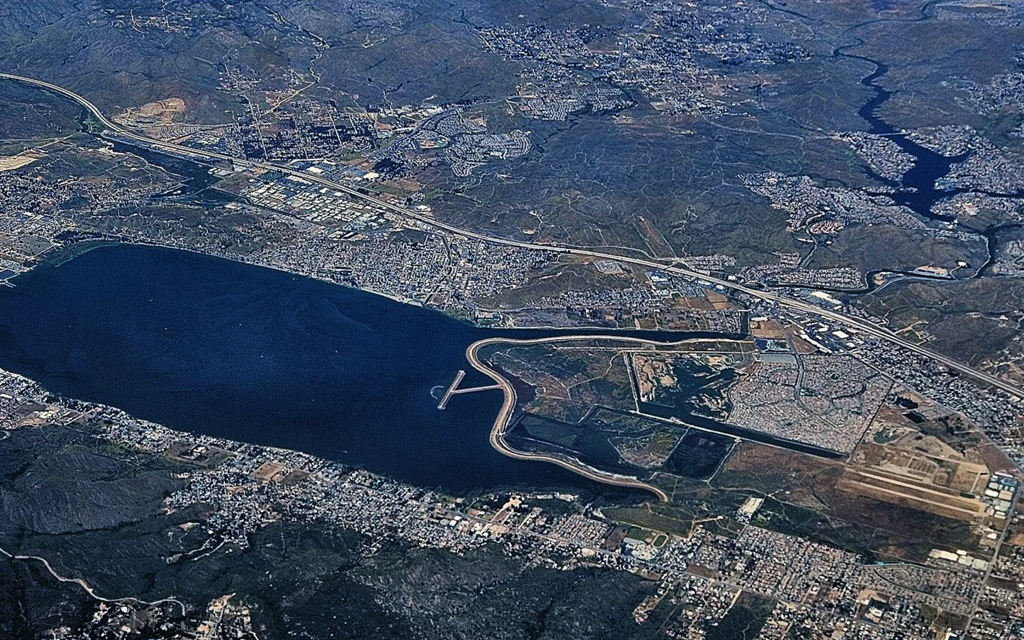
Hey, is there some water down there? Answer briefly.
Yes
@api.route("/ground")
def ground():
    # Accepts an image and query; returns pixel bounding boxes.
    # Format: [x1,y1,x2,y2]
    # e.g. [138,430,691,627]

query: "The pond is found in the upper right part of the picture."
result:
[859,64,1024,223]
